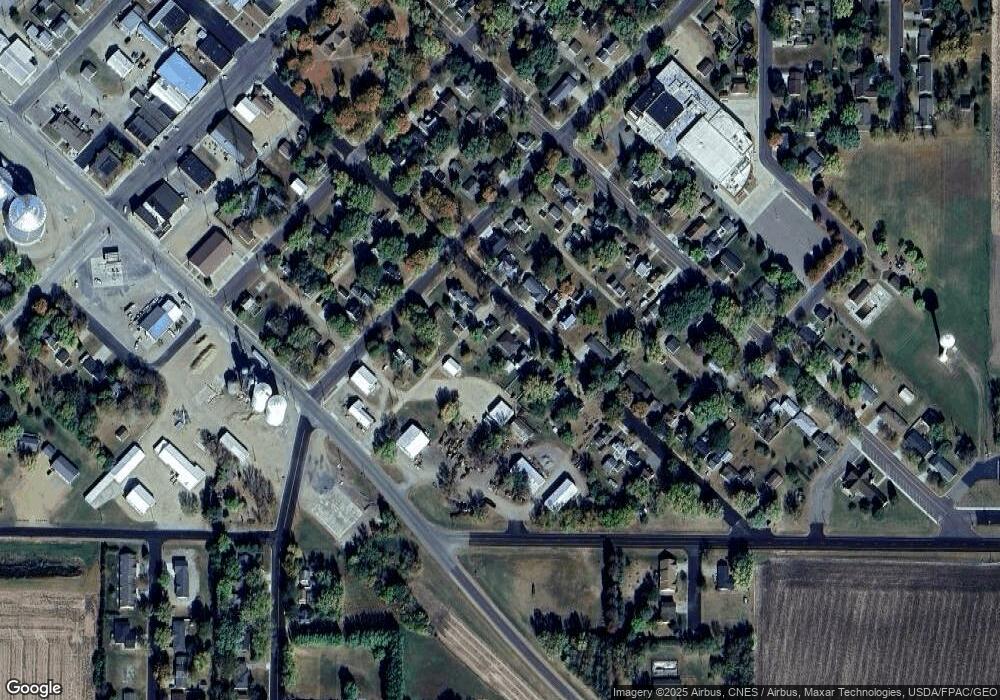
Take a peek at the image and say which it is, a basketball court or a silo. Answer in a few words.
silo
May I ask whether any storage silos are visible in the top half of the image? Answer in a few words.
Yes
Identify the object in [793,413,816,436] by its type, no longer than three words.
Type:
house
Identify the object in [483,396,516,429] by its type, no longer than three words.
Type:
building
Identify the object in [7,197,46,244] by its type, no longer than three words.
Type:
silo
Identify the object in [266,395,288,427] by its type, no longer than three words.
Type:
silo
